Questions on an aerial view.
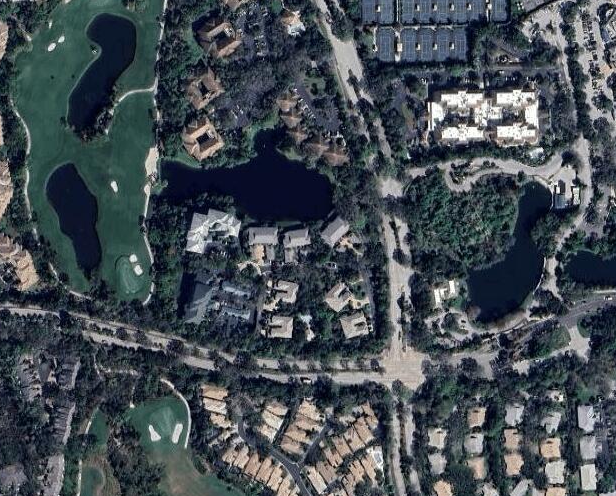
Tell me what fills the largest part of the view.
trees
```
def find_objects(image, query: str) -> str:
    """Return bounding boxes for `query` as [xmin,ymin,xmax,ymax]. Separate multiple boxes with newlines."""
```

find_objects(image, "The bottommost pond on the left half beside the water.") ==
[46,163,101,275]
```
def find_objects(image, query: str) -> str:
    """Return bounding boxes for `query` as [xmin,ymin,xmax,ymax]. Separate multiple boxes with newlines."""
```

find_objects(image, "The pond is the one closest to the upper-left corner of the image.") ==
[66,13,136,136]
